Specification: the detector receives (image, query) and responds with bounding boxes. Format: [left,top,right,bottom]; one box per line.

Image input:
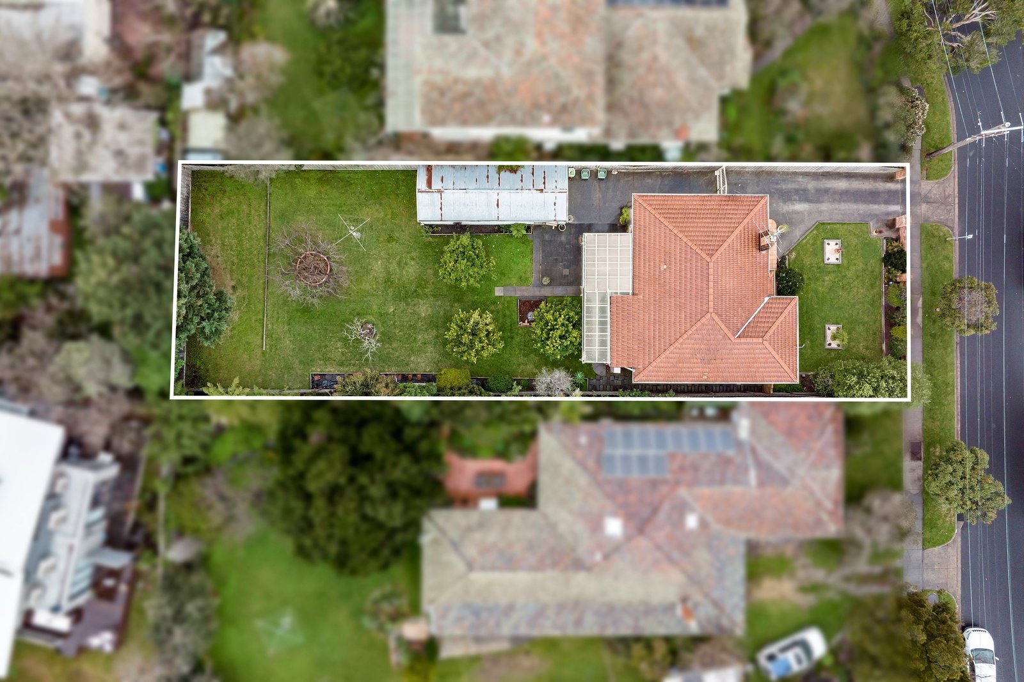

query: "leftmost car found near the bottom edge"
[749,624,825,678]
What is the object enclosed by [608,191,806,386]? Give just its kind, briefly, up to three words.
house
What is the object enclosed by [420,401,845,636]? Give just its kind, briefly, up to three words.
house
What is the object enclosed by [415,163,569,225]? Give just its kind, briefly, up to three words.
shed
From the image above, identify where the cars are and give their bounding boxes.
[749,624,825,678]
[957,625,998,682]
